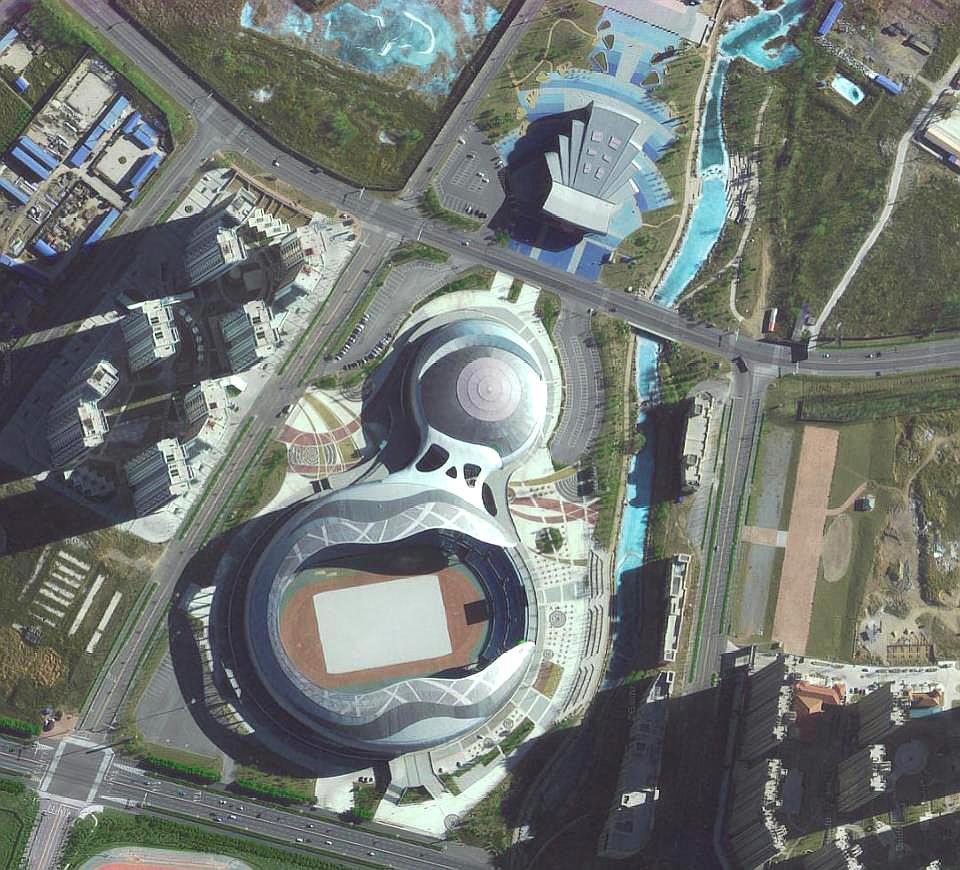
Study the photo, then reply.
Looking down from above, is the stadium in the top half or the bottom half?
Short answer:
bottom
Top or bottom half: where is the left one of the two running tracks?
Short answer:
bottom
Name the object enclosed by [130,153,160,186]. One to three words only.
shed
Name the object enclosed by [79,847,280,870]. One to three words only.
running track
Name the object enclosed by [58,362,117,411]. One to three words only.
building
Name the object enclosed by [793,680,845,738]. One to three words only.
house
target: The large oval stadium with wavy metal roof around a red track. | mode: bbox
[226,480,538,759]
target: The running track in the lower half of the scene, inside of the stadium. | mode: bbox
[280,562,488,687]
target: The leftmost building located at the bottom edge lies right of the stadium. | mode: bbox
[591,672,676,862]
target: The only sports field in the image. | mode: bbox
[313,575,453,674]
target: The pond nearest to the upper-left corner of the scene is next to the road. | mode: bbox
[232,0,514,98]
